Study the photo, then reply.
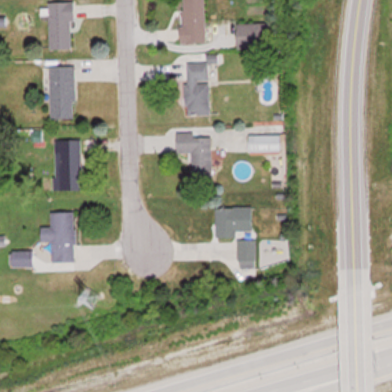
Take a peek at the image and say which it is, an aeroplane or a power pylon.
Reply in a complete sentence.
Looking from above, you can make out a power pylon.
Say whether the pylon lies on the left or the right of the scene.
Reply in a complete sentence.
The pylon sits on the left side.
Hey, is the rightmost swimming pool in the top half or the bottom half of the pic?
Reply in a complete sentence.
It is in the top half that the rightmost swimming pool appears.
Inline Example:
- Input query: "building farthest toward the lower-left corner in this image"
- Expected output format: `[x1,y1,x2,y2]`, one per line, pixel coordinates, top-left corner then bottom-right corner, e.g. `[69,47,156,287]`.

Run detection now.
[8,250,32,268]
